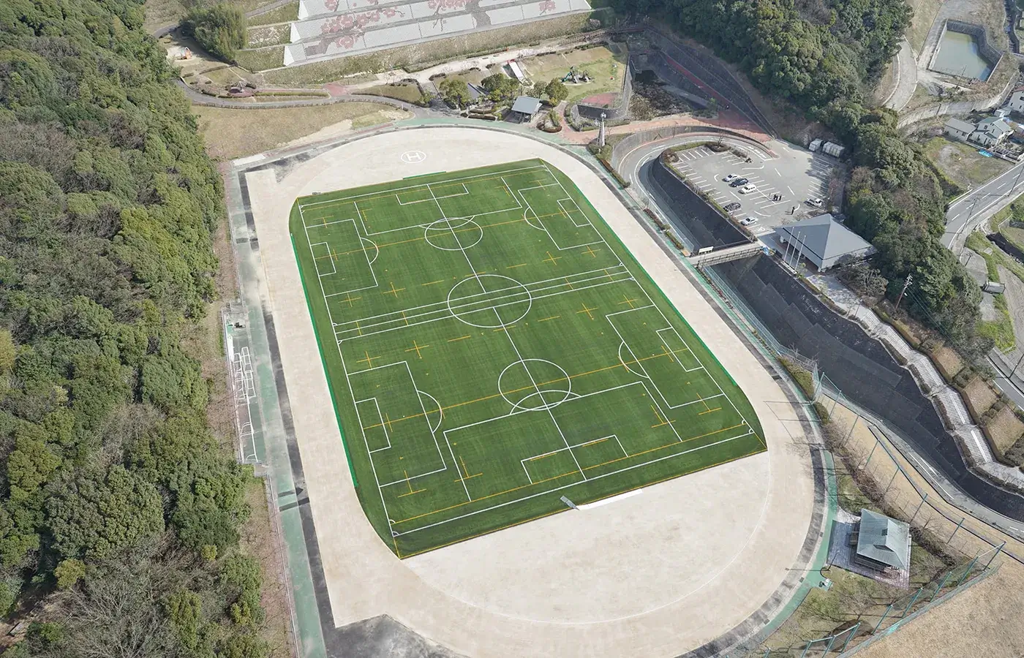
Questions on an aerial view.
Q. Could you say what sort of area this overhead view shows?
sports ground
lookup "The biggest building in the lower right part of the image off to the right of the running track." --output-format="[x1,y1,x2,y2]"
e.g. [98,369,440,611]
[842,508,910,579]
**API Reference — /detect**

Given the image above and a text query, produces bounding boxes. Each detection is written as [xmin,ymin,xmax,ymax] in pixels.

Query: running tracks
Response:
[246,127,815,658]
